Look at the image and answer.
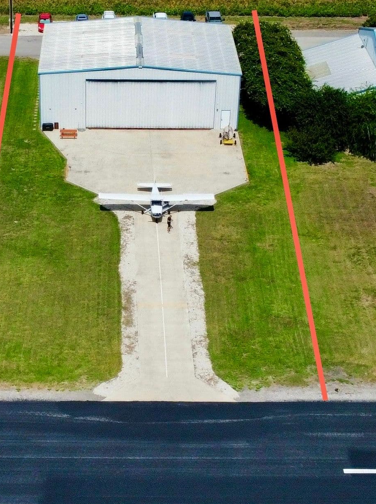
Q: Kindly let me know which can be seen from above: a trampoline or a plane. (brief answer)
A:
plane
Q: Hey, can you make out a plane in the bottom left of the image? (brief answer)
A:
No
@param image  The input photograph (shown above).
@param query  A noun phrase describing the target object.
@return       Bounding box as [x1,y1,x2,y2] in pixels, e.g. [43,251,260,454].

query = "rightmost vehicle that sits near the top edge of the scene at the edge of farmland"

[205,10,224,23]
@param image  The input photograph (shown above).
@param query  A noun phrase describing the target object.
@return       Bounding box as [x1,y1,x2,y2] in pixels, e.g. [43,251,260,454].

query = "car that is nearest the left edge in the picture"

[36,14,52,34]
